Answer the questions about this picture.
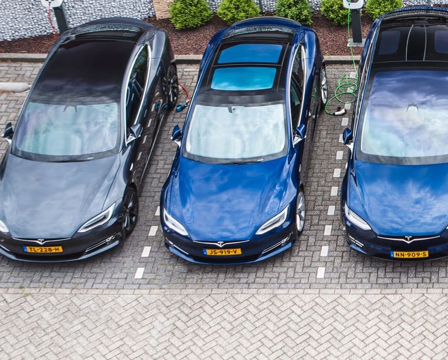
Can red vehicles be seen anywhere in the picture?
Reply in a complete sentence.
No, I find no red vehicle anywhere in the image.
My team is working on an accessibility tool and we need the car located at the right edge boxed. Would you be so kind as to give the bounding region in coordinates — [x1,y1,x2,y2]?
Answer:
[339,3,448,264]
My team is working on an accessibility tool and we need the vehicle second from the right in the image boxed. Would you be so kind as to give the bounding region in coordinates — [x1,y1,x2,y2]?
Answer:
[163,16,328,267]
